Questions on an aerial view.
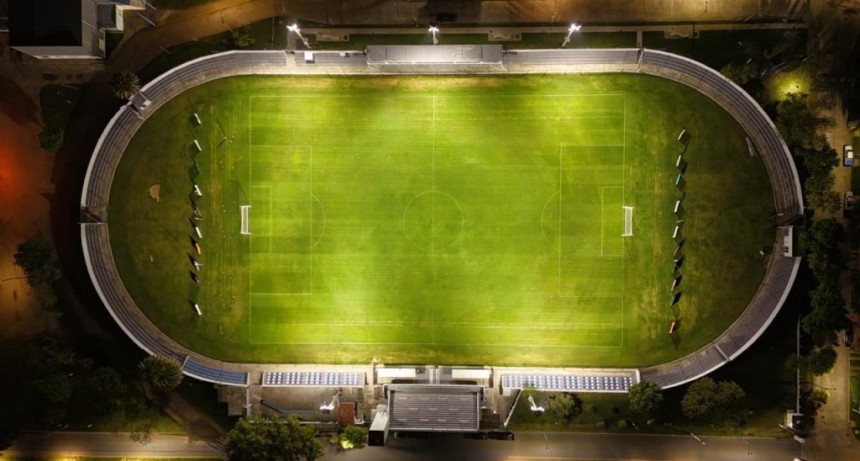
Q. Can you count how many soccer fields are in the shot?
1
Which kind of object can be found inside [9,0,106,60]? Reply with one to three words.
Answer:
building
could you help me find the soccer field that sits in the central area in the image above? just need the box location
[249,94,624,348]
